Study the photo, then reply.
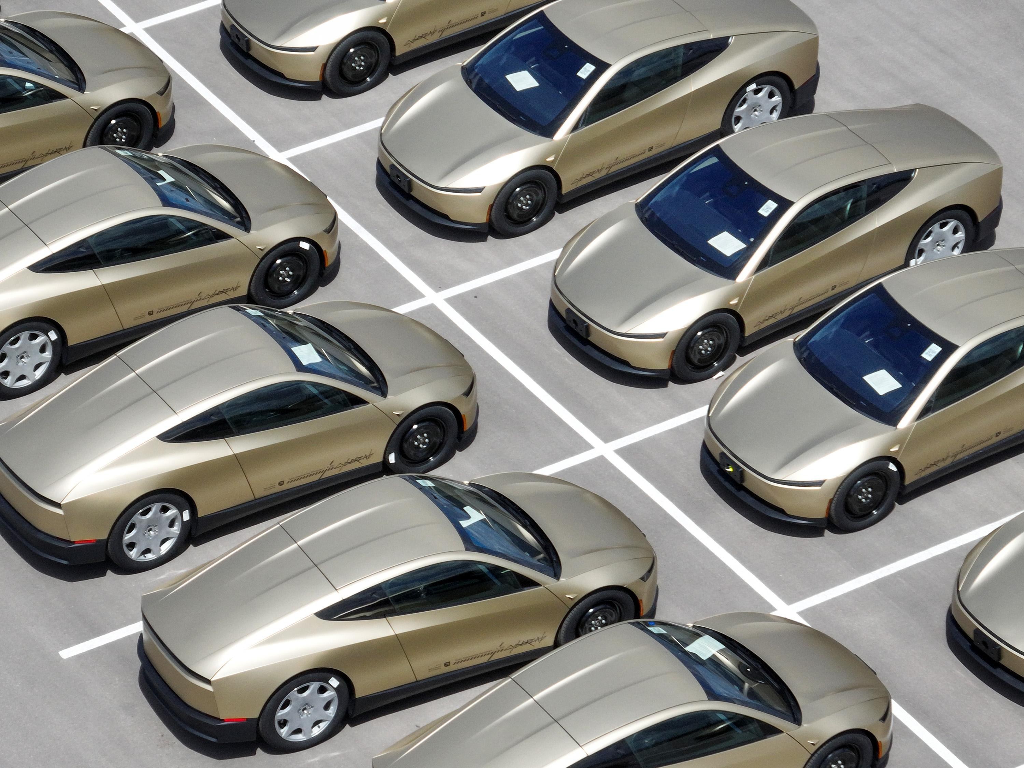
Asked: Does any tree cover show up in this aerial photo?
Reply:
No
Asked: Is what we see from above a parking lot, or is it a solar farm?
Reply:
parking lot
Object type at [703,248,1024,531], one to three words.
car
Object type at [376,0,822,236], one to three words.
car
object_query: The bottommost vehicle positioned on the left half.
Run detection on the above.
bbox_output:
[136,475,661,751]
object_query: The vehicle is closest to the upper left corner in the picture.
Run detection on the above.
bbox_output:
[0,15,175,182]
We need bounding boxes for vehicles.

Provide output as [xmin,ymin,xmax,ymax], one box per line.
[376,0,822,236]
[220,0,557,94]
[372,613,895,768]
[0,15,175,182]
[0,147,342,396]
[703,248,1024,531]
[0,304,479,570]
[953,519,1024,697]
[549,103,1005,382]
[136,475,661,751]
